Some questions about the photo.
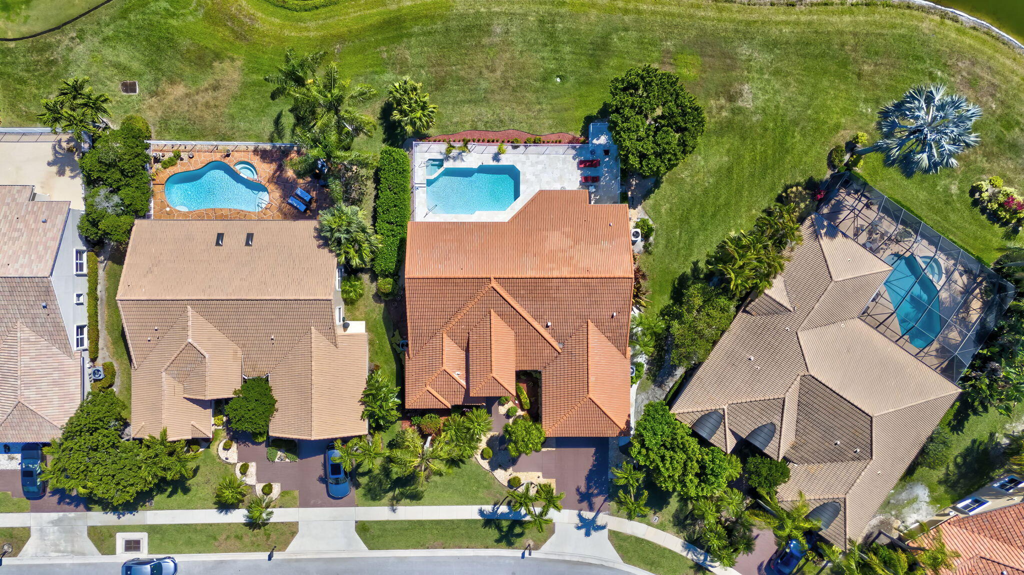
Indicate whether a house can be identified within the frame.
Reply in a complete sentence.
Yes, the picture does show a house.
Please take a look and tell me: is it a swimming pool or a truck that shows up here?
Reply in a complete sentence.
Of the two, only a swimming pool appears.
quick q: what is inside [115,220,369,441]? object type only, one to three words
house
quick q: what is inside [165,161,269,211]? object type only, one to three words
swimming pool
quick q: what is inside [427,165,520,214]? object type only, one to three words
swimming pool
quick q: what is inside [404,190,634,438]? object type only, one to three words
house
